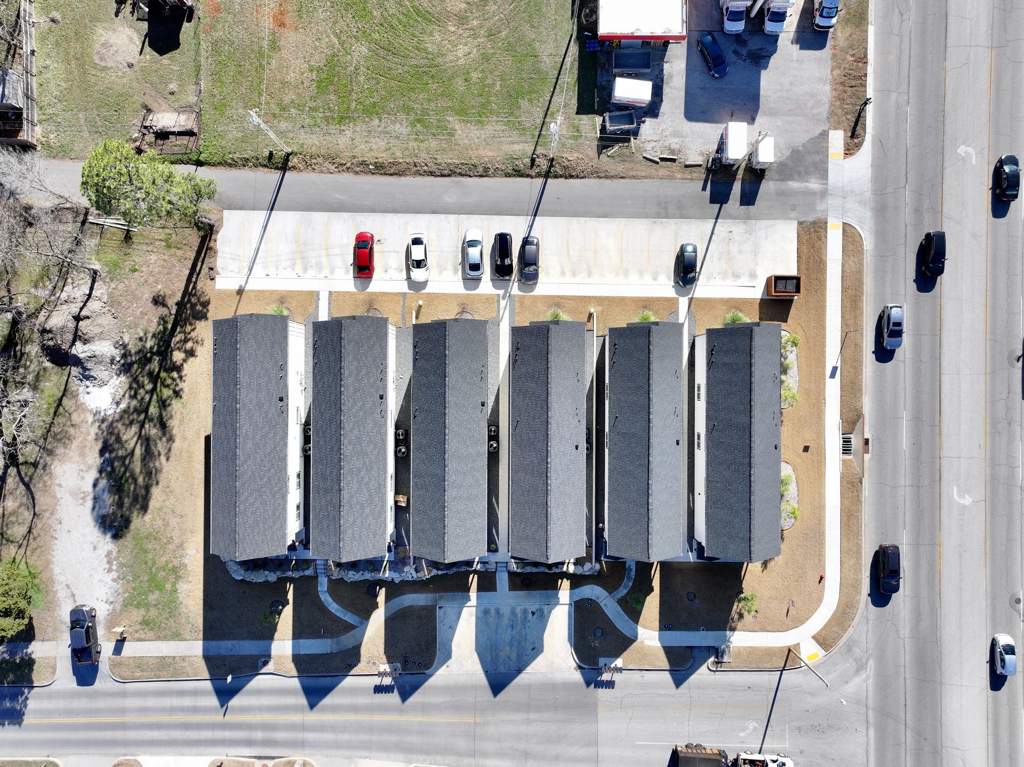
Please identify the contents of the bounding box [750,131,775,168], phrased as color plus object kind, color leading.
white trailer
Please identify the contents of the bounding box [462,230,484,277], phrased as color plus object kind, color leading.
white car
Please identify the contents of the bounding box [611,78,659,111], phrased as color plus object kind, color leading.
white trailer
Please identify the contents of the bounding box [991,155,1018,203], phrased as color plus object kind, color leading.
black car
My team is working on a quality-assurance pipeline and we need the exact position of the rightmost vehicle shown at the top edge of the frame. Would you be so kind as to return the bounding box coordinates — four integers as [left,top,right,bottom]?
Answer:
[811,0,842,35]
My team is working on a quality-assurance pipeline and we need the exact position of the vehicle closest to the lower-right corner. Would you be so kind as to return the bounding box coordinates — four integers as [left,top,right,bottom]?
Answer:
[988,633,1015,676]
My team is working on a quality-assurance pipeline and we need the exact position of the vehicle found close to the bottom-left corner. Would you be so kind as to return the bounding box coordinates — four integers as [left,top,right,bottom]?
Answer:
[70,605,102,665]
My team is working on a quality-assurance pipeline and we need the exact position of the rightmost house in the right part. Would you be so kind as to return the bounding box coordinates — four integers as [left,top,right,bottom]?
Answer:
[693,320,782,563]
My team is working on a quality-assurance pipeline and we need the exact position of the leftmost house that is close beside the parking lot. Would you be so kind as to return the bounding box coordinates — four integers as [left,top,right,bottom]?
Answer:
[210,313,305,561]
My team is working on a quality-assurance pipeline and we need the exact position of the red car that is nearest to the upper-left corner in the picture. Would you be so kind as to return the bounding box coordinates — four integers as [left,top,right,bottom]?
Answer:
[353,233,375,279]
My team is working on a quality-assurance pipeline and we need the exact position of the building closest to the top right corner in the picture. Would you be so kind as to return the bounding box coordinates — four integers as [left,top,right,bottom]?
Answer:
[597,0,688,51]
